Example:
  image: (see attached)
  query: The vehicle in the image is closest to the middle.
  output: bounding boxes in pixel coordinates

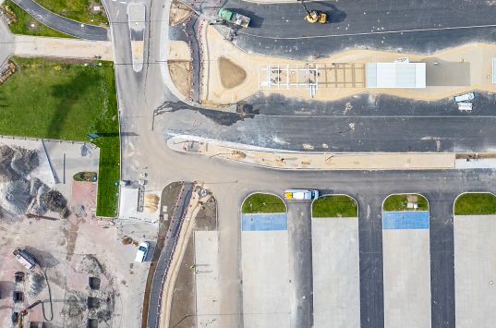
[285,188,318,202]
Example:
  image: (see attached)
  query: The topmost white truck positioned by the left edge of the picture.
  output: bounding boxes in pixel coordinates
[9,249,34,271]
